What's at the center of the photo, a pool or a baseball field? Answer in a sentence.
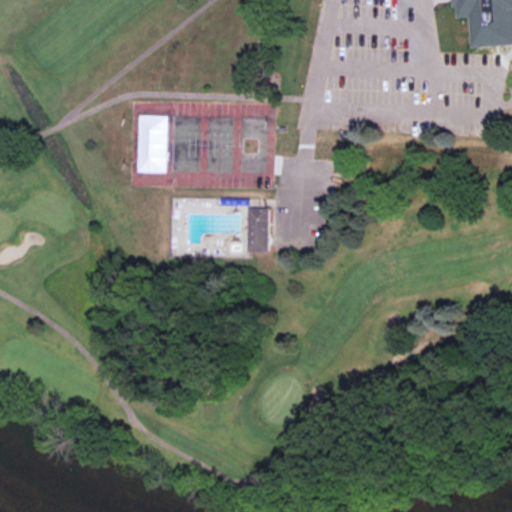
There is a pool at the center of the photo.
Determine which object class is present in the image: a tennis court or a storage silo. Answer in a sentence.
The one in the frame is a tennis court.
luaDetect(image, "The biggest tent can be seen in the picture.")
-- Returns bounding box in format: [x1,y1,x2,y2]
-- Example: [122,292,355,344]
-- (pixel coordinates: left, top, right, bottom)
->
[137,114,172,174]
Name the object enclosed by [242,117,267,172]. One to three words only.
tennis court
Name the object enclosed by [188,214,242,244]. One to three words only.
swimming pool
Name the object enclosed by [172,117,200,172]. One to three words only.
tennis court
